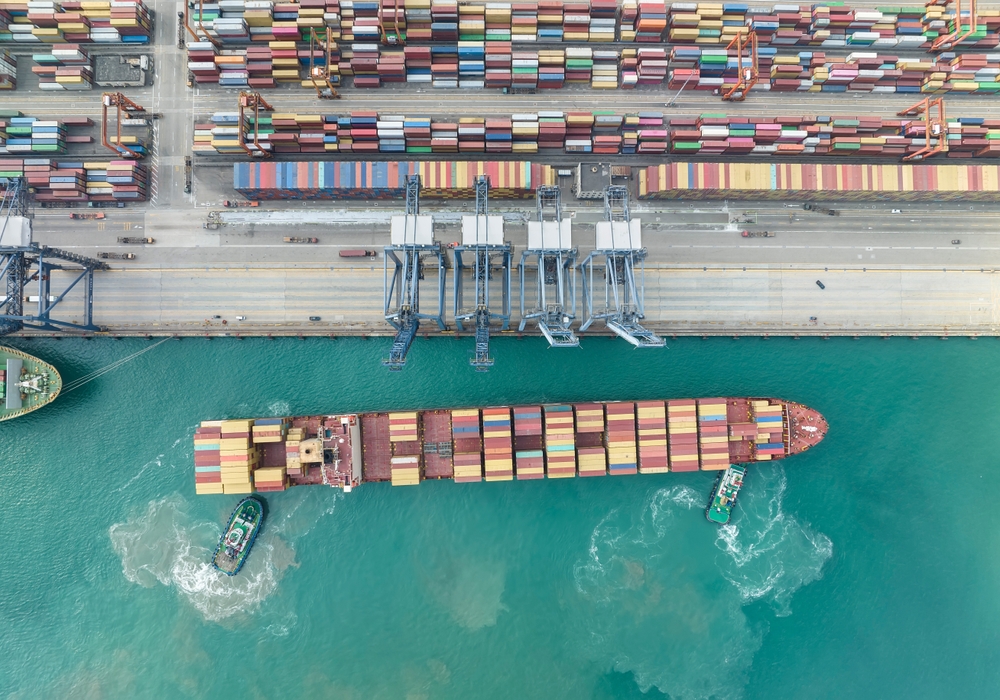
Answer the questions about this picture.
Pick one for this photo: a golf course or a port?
port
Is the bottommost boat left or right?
left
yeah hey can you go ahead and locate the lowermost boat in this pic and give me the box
[213,496,263,578]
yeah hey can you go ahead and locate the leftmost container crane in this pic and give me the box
[0,172,120,334]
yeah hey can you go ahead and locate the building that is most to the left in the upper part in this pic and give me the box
[95,55,148,89]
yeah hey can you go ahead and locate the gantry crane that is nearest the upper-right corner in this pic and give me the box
[925,0,976,53]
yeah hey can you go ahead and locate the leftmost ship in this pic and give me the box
[0,345,85,421]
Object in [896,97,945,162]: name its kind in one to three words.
container crane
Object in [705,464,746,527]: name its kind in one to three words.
boat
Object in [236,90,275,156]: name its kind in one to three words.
container crane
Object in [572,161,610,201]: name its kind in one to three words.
building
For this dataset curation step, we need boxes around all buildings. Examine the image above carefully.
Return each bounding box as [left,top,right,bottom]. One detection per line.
[572,161,610,201]
[95,55,148,89]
